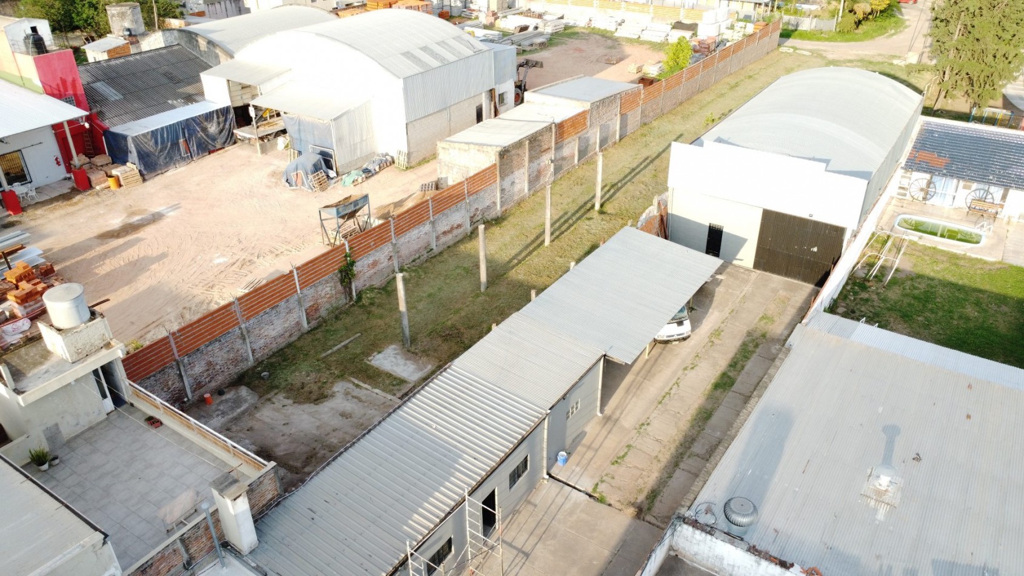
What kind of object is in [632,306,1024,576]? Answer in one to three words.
building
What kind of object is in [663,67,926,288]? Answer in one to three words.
warehouse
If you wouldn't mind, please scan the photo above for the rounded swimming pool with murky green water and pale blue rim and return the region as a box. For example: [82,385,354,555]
[890,213,986,243]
